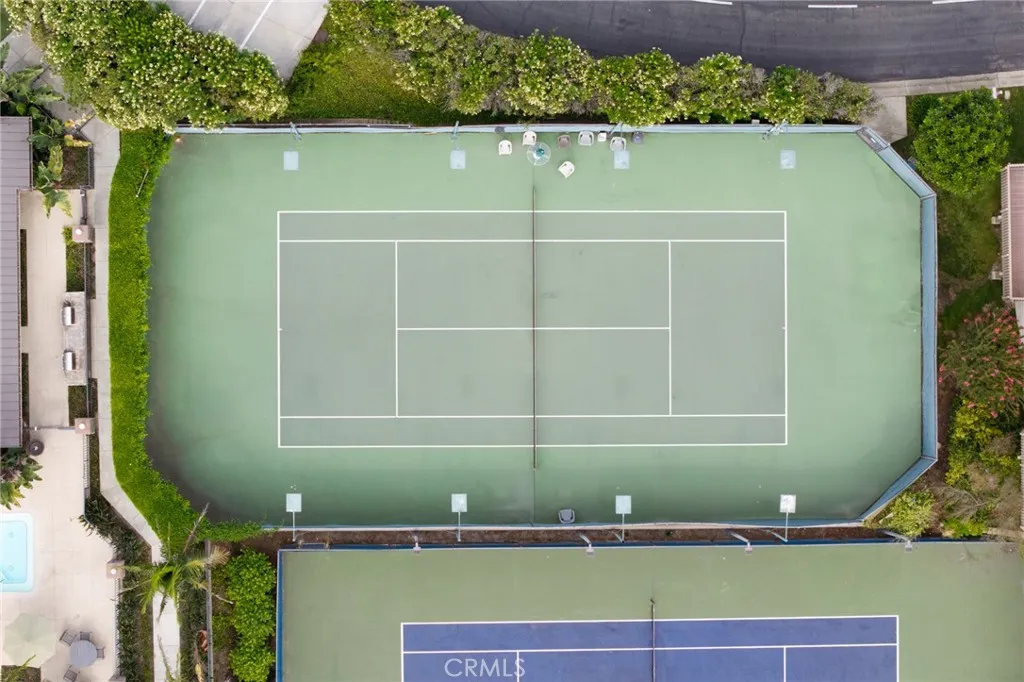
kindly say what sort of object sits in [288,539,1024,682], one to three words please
tennis court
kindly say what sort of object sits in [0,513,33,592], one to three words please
swimming pool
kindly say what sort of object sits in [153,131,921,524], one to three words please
tennis court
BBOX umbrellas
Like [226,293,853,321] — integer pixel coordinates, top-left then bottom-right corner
[5,611,56,663]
